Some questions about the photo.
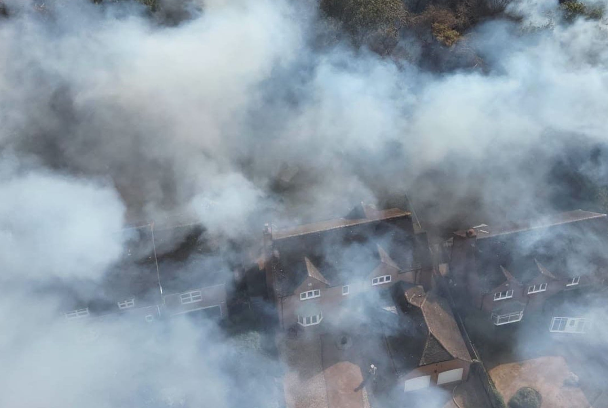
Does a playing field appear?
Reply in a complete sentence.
No, no playing field can be seen from above.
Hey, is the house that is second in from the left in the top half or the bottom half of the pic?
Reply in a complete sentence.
The house that is second in from the left is in the bottom half of the image.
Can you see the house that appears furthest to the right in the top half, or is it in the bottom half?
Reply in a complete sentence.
It is in the bottom half that the house that appears furthest to the right appears.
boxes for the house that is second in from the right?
[259,180,475,393]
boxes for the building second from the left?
[149,204,253,332]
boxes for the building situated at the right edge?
[448,208,608,361]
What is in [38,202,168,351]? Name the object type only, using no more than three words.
house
